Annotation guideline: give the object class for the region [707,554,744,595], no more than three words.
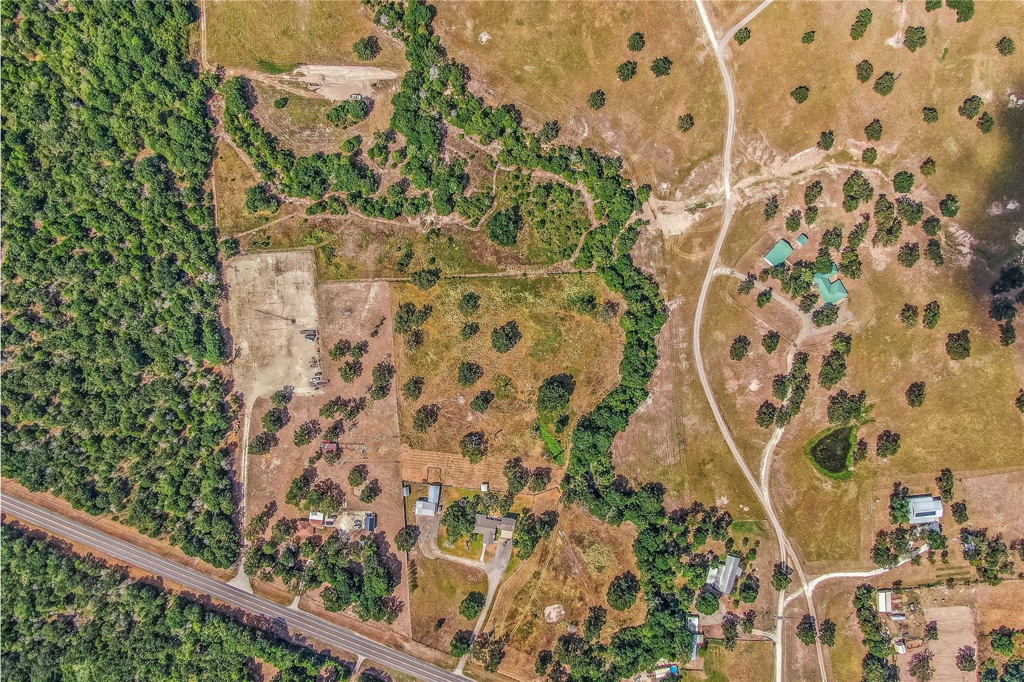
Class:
house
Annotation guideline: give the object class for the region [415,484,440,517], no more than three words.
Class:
building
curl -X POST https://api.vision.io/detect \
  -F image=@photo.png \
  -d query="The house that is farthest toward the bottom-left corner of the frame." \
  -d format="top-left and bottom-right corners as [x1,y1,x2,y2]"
[298,511,335,536]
